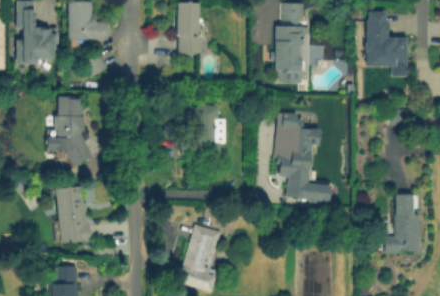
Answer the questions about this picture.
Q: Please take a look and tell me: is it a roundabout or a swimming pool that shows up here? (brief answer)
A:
swimming pool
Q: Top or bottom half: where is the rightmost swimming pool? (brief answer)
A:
top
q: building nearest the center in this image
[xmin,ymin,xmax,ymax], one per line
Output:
[196,106,226,146]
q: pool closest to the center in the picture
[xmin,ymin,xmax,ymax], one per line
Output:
[202,55,216,77]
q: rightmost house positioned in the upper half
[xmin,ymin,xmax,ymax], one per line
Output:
[366,12,408,78]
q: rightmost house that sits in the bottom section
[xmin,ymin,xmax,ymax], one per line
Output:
[386,195,418,256]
